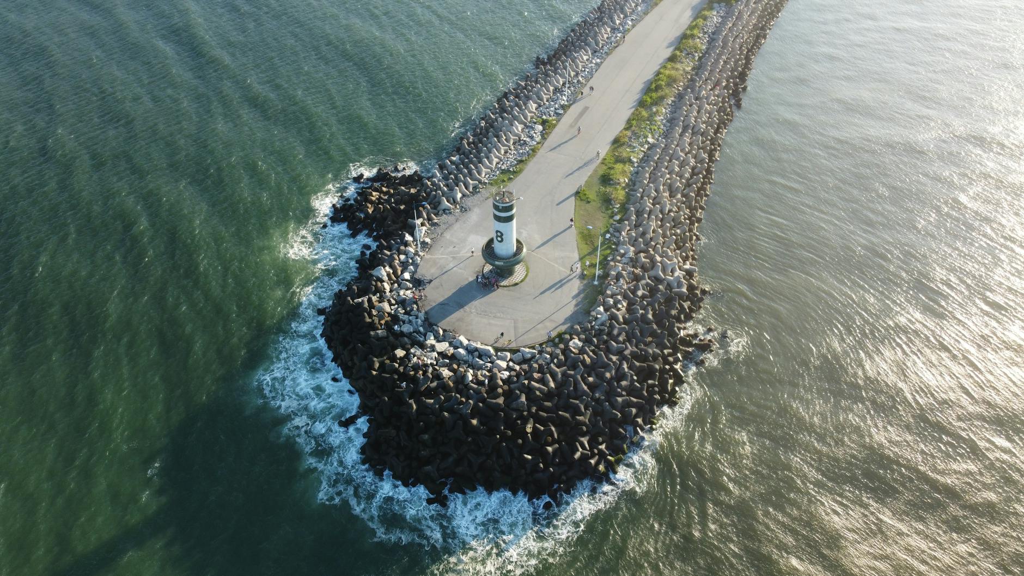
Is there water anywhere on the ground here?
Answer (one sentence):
Yes, some water is visible.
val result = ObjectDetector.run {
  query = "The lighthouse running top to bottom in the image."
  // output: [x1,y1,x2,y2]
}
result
[484,182,530,287]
